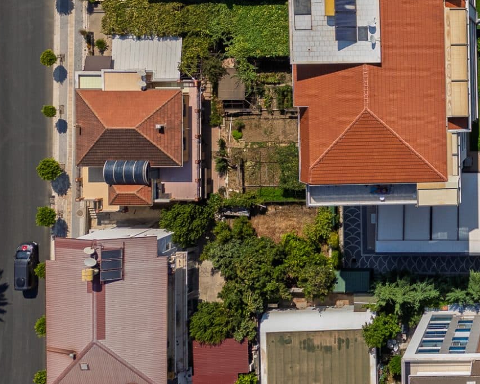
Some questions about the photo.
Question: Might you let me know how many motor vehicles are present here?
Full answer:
The picture shows just 1 motor vehicle.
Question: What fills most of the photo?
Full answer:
The scene is dominated by buildings.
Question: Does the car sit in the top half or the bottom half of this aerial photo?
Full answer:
The car is in the bottom half of the image.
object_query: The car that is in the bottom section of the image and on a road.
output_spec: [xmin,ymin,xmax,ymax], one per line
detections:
[12,245,40,290]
